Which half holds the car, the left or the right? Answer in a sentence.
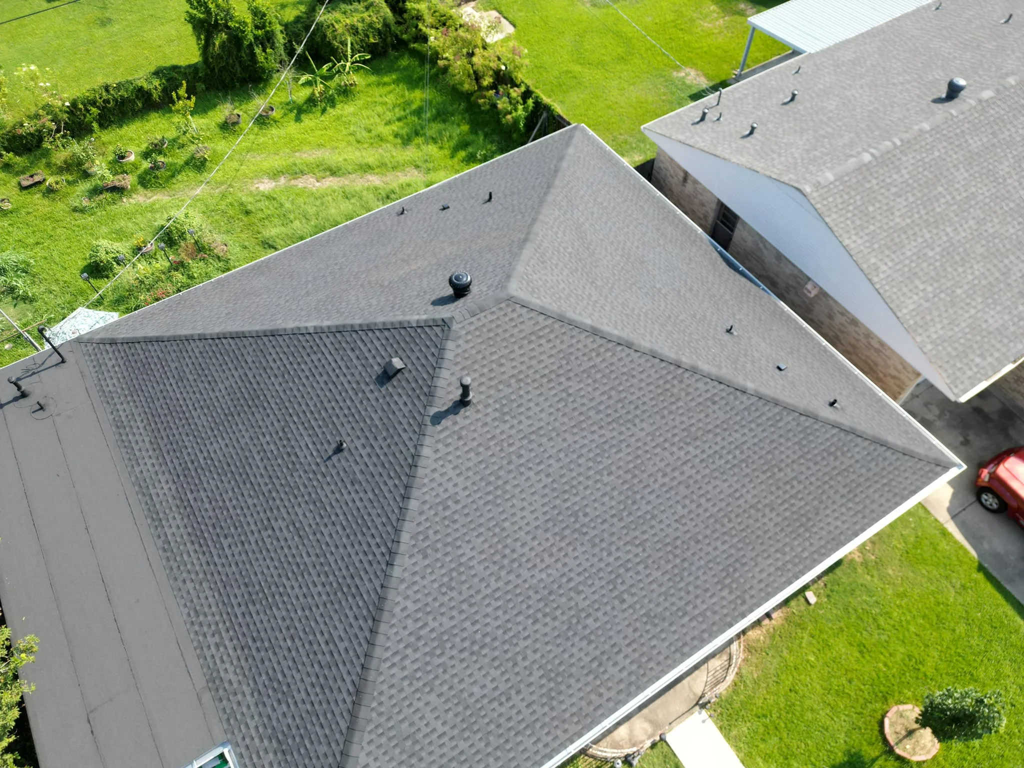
The car is on the right side of the image.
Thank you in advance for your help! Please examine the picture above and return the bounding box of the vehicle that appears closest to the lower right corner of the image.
[973,437,1024,534]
